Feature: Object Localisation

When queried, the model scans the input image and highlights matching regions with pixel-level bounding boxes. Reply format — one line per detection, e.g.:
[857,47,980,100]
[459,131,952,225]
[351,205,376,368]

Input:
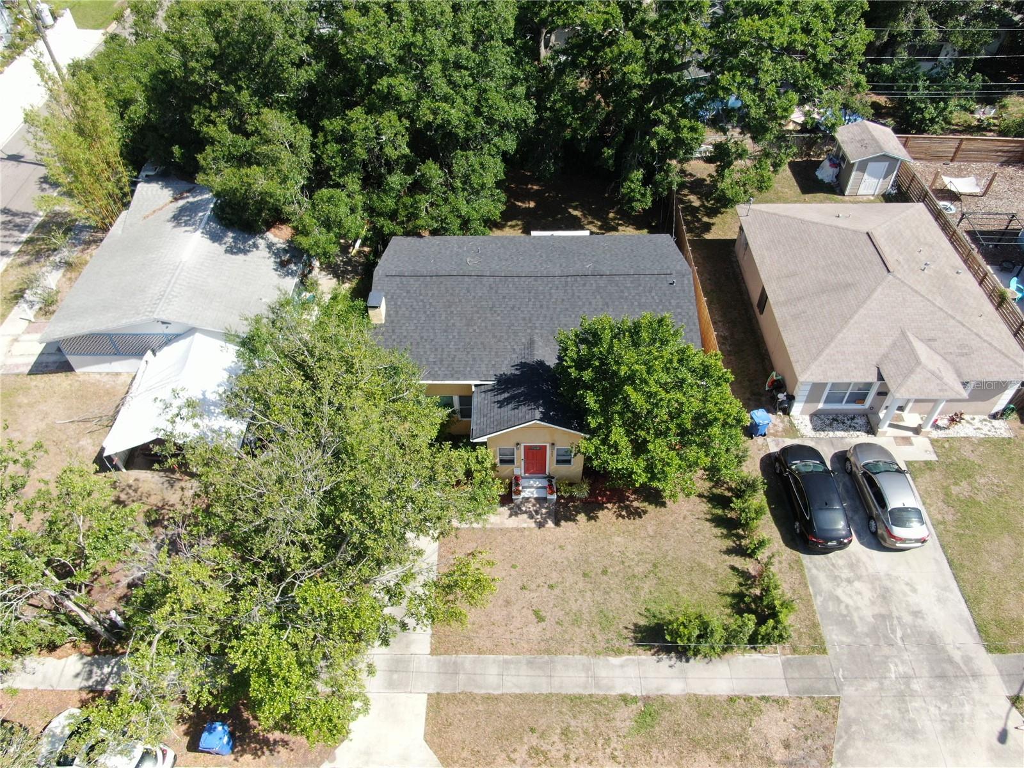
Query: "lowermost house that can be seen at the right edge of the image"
[736,196,1024,438]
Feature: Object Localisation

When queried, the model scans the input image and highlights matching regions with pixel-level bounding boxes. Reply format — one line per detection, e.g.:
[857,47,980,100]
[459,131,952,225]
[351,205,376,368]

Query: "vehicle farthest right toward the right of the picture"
[852,443,932,545]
